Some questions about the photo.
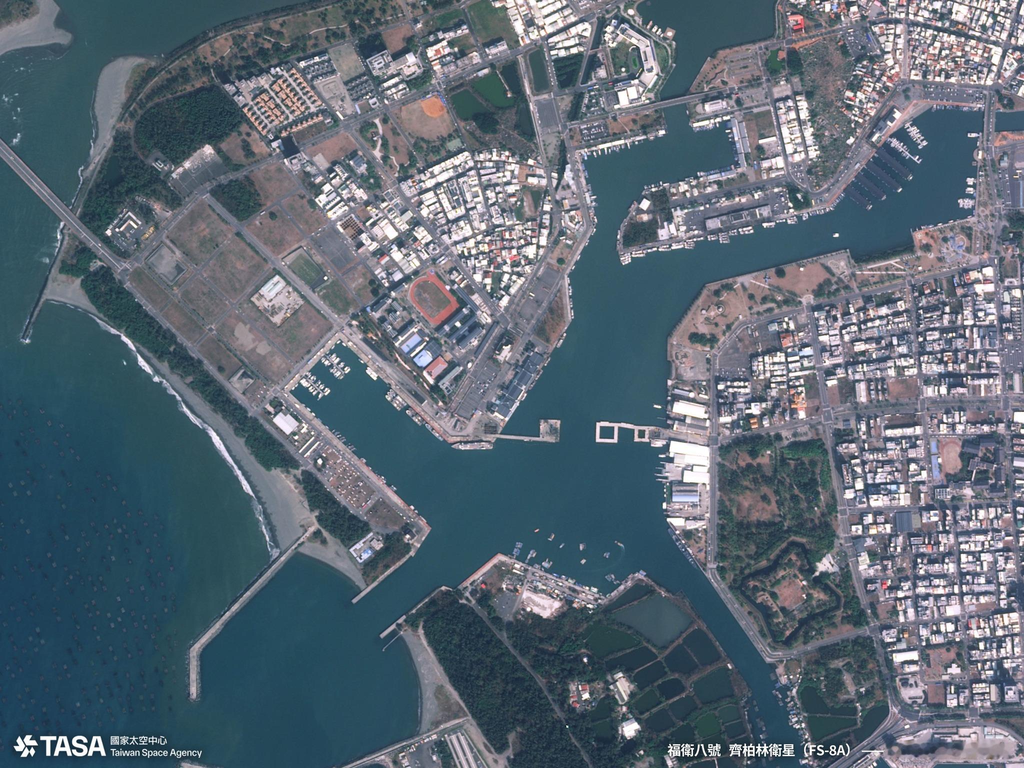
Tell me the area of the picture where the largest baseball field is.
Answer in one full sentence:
The largest baseball field sits in the top section of the image.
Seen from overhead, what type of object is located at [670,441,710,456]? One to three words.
building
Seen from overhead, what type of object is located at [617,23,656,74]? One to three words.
building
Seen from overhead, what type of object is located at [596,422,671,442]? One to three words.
pier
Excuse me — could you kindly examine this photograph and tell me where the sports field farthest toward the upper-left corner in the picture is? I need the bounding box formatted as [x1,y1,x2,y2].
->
[282,246,327,289]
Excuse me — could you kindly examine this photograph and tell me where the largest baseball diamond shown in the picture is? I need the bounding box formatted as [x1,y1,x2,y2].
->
[401,92,453,139]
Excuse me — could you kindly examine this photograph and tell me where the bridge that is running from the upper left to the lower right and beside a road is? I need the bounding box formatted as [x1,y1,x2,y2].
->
[0,142,129,269]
